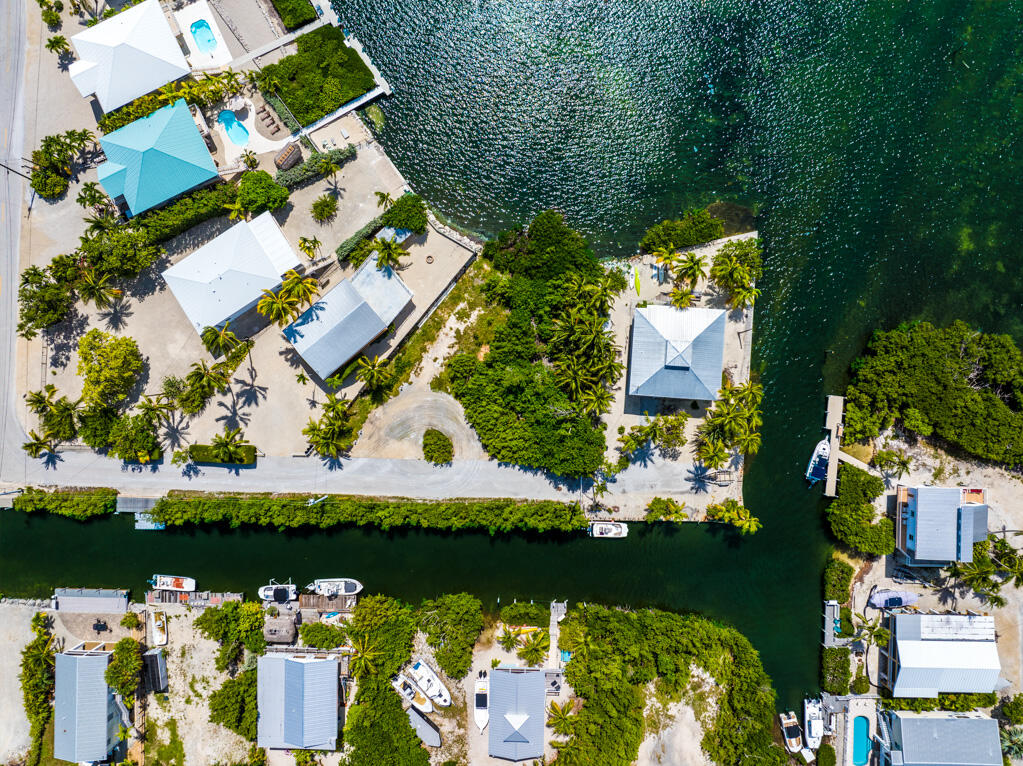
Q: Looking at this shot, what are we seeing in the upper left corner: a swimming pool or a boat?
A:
swimming pool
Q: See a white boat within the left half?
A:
Yes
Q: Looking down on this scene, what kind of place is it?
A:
residential area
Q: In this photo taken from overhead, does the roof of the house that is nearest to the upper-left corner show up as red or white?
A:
white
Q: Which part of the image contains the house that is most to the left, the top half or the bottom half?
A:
bottom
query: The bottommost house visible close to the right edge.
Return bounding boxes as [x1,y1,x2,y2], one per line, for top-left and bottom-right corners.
[871,705,1004,766]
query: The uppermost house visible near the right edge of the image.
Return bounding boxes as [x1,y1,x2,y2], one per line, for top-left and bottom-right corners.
[886,483,990,568]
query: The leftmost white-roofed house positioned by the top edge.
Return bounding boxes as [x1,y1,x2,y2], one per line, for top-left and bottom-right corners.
[69,0,216,120]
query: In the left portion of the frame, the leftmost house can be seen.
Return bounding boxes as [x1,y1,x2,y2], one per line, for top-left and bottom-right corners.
[55,632,137,762]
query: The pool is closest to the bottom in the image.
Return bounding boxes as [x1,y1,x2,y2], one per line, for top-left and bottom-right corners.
[847,700,878,766]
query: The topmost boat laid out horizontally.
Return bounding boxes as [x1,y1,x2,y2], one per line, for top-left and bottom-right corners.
[583,521,628,538]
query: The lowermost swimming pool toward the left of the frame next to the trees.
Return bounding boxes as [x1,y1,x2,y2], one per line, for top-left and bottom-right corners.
[206,96,290,167]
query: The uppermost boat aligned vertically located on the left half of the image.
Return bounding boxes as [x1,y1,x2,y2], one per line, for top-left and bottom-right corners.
[148,611,165,647]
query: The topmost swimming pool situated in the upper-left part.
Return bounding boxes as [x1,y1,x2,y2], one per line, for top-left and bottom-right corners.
[171,0,233,66]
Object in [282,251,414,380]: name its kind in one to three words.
house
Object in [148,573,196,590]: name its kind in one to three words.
boat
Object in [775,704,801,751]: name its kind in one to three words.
boat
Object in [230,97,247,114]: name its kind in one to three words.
umbrella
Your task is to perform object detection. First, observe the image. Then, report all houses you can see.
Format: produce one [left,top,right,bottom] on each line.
[628,309,727,400]
[97,98,247,216]
[871,705,1004,766]
[886,483,990,568]
[282,251,414,380]
[55,632,137,762]
[866,608,1002,698]
[161,213,305,336]
[255,648,353,750]
[489,660,561,762]
[69,0,216,120]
